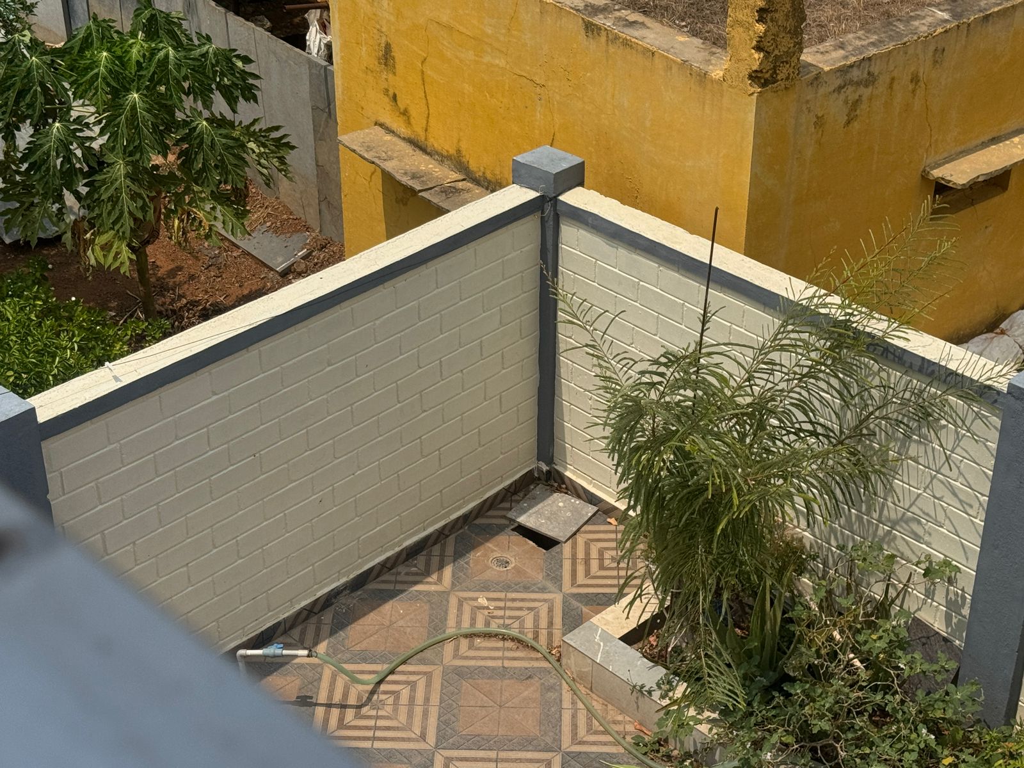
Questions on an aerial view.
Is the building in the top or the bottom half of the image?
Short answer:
top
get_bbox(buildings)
[334,0,1024,339]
